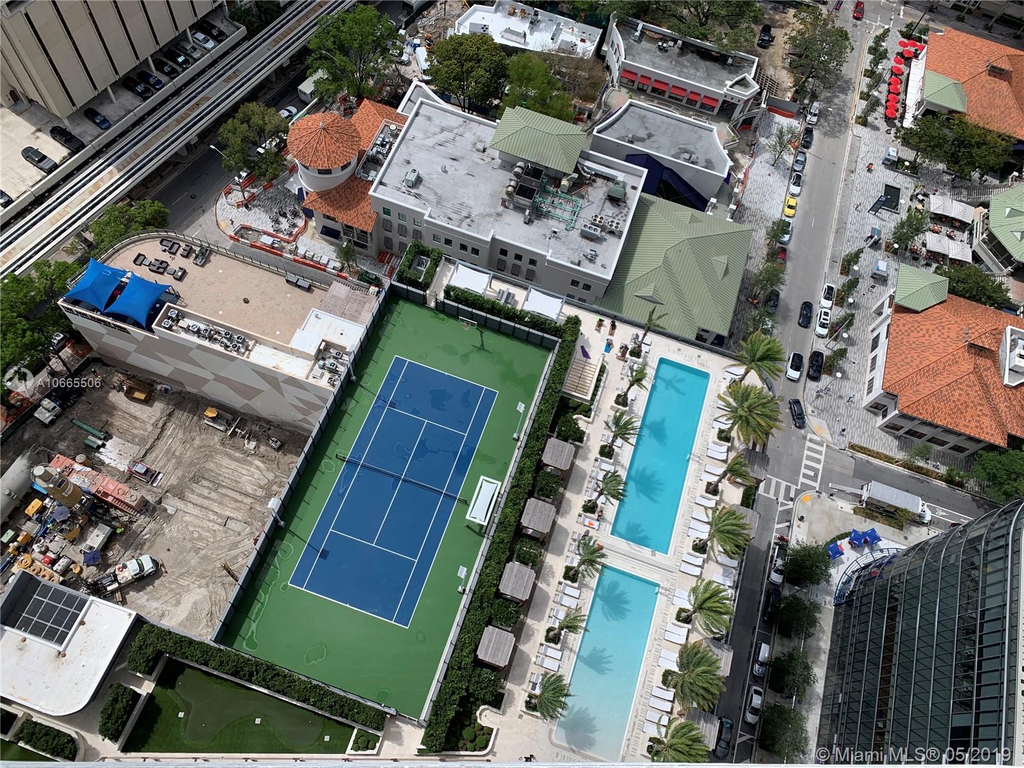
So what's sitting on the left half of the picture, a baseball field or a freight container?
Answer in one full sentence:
Visible on the left half of the picture is a freight container.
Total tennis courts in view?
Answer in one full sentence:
In total, there is 1 tennis court in the scene.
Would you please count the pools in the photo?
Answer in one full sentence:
The count of pools comes to 2.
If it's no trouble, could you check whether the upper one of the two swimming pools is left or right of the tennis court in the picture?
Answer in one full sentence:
Looking at the photo, the upper one of the two swimming pools lies to the right of the tennis court.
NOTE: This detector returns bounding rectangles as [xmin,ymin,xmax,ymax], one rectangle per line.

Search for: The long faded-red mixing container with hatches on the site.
[48,452,151,520]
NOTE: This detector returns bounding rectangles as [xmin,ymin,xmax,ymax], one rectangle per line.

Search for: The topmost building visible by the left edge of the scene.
[0,0,228,134]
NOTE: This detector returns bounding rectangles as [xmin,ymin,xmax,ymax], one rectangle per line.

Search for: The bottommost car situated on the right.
[713,717,735,761]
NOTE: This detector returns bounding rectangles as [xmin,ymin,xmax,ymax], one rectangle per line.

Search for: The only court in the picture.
[217,293,555,721]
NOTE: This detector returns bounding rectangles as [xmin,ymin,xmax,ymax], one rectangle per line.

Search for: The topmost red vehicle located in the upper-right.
[852,1,864,19]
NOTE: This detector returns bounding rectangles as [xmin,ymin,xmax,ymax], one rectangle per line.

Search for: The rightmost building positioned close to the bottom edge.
[820,493,1024,761]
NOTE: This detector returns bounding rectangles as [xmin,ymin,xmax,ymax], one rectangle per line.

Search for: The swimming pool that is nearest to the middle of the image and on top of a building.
[604,355,712,558]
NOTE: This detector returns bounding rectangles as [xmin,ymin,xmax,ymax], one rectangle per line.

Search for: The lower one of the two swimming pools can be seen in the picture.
[546,564,665,762]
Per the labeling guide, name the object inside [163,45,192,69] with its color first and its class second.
black car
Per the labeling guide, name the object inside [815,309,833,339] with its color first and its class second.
white vehicle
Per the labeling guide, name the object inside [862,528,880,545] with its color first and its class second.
blue umbrella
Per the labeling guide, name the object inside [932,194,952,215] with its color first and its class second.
white umbrella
